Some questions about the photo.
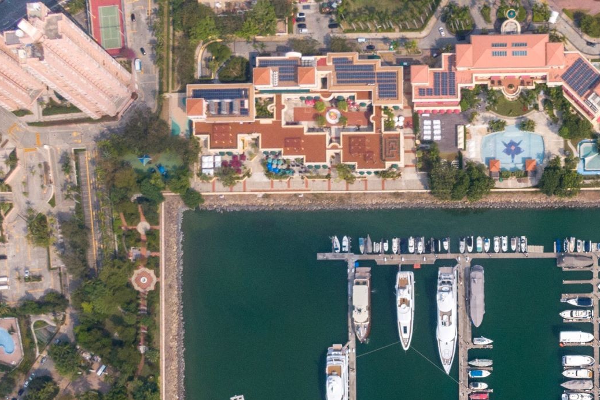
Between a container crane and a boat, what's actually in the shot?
boat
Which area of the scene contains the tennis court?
top left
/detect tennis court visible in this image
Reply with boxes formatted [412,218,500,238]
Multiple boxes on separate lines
[90,0,134,58]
